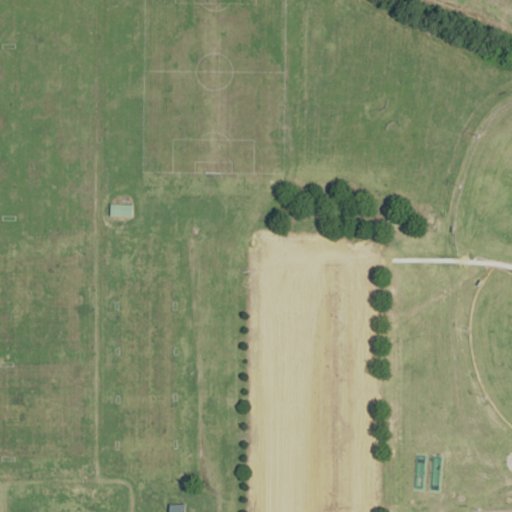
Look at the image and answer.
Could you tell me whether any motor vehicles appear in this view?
No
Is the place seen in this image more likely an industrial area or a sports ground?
sports ground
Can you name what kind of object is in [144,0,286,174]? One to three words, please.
soccer field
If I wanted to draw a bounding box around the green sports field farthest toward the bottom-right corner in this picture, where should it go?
[468,267,512,430]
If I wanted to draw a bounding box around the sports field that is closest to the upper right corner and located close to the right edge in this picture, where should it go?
[456,104,512,254]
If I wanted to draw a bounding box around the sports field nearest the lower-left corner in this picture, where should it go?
[0,362,86,460]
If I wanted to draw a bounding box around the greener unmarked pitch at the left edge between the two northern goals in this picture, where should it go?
[0,44,92,220]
